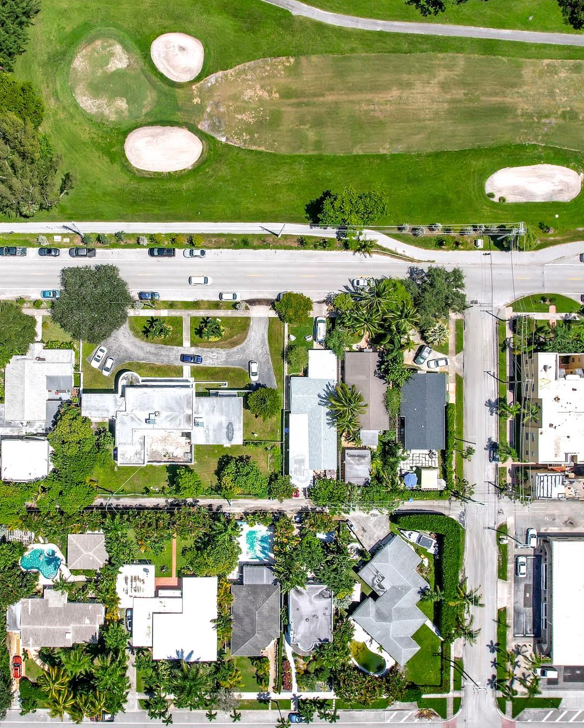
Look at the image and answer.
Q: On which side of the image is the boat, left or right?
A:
right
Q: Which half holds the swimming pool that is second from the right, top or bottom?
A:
bottom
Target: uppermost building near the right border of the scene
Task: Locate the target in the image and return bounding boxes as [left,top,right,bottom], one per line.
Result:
[520,353,584,463]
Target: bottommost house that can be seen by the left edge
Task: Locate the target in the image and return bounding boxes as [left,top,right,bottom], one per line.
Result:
[7,587,104,651]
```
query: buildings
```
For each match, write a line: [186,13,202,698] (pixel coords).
[1,437,51,481]
[81,371,252,465]
[231,563,280,655]
[541,535,584,665]
[399,373,445,450]
[344,348,389,445]
[289,579,332,651]
[118,561,217,662]
[5,343,74,429]
[67,533,107,570]
[7,587,104,651]
[351,535,429,667]
[526,468,584,499]
[287,349,338,487]
[342,448,370,484]
[520,353,584,463]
